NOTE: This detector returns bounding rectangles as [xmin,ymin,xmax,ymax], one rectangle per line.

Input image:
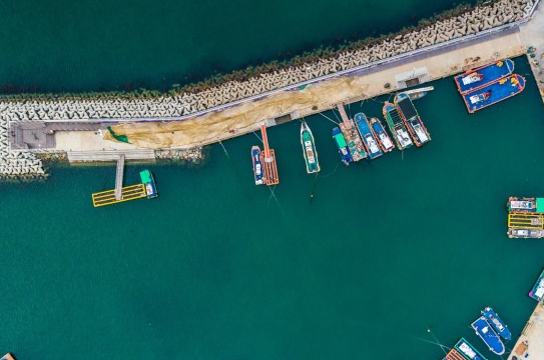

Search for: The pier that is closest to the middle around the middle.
[262,148,280,186]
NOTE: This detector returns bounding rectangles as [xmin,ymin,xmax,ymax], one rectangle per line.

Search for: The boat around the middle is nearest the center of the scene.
[252,145,265,187]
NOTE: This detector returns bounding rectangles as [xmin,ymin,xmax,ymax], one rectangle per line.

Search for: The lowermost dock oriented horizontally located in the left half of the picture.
[91,184,148,208]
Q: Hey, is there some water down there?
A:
Yes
